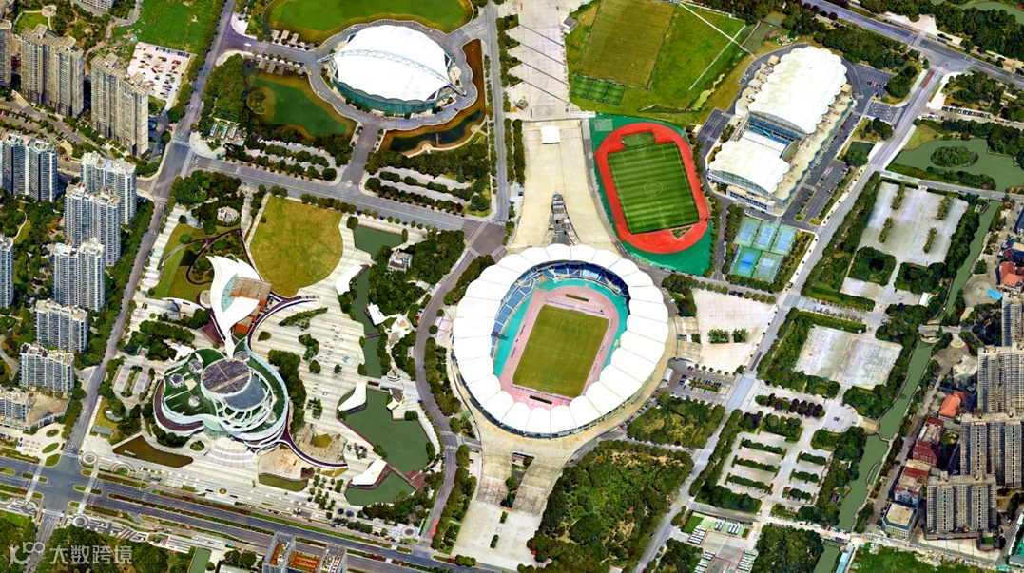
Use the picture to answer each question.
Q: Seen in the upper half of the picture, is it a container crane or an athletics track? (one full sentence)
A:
The feature located in the upper half of the picture is an athletics track.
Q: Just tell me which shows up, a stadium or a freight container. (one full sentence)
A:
It is a stadium that can be seen here.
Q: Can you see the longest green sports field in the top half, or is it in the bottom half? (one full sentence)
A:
The longest green sports field is in the top half of the image.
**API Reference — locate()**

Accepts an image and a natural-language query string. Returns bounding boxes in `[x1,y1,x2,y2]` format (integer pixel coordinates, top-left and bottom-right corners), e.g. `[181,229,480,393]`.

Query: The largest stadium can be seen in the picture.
[450,241,671,448]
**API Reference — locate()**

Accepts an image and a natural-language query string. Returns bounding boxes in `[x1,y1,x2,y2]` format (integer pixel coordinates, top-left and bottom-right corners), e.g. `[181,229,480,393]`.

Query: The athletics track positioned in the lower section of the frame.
[502,282,619,411]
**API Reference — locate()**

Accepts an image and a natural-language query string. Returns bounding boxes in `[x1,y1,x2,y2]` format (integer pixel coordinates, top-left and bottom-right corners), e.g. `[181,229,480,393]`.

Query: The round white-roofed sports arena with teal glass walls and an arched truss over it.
[314,25,469,117]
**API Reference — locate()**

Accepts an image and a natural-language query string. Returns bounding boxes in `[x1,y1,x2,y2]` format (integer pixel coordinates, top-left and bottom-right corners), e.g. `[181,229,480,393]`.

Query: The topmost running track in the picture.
[593,123,709,253]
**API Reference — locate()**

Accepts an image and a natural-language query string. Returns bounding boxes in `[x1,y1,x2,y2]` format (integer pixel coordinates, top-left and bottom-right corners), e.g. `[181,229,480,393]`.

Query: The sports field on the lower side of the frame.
[515,304,607,397]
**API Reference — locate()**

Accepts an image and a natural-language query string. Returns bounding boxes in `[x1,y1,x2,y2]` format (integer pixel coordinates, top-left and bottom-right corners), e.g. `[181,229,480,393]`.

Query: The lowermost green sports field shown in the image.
[588,110,713,277]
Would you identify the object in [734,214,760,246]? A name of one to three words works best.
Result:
tennis court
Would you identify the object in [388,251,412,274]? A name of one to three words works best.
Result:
house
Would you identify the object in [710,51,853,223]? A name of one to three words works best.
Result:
building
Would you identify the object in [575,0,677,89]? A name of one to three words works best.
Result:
soccer field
